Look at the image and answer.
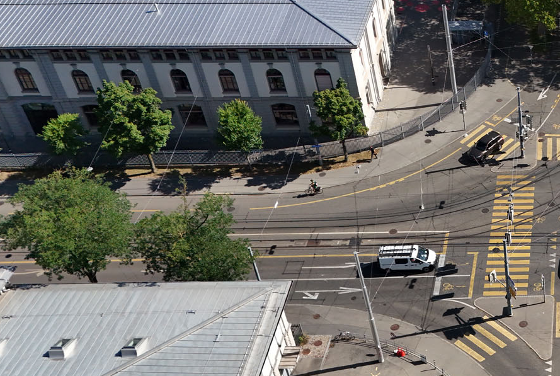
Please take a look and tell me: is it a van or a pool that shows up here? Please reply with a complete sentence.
The image shows a van.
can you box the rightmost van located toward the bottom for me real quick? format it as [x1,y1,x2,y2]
[377,245,437,274]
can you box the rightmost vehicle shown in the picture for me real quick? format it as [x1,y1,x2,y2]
[463,129,502,164]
